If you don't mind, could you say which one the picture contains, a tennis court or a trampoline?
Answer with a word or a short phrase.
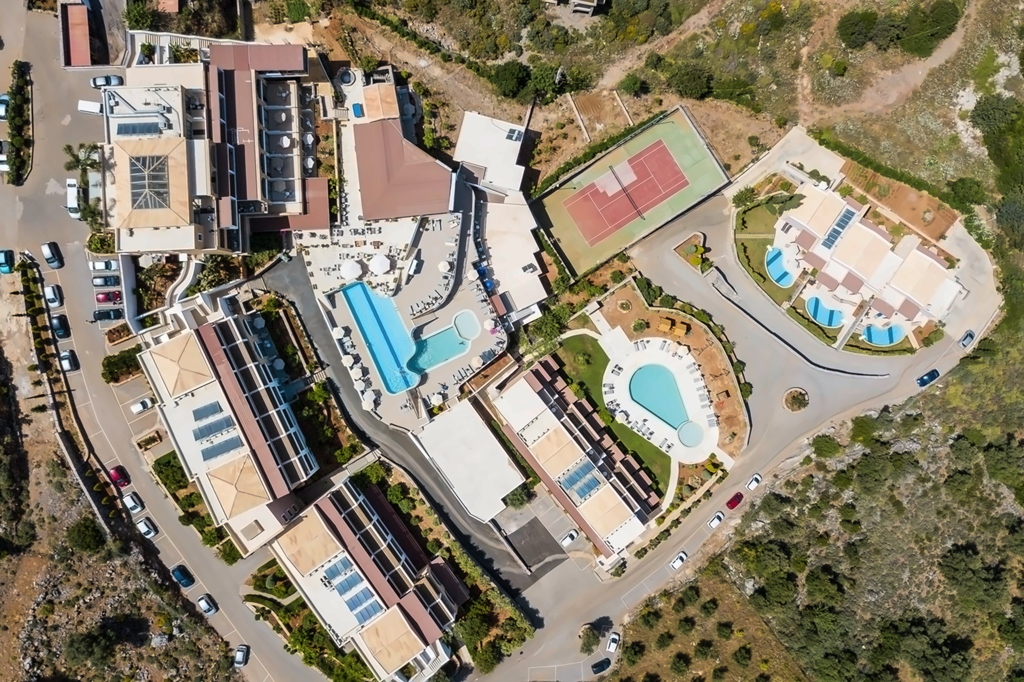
tennis court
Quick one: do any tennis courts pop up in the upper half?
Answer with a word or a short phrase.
Yes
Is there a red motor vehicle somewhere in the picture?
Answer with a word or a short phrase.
Yes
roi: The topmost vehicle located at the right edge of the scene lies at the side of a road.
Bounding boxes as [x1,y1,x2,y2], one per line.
[959,328,977,348]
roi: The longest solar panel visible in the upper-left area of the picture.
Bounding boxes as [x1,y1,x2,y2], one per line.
[117,123,160,135]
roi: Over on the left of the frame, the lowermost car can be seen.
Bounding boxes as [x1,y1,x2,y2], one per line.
[234,645,248,670]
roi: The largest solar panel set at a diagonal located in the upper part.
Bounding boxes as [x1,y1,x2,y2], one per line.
[821,208,856,249]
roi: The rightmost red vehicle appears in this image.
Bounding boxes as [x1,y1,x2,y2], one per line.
[727,492,744,512]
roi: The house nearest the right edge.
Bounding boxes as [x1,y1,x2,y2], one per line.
[866,245,962,321]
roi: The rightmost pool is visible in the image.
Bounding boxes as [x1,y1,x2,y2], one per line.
[862,323,906,347]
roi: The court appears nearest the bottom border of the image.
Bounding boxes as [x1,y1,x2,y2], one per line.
[533,107,729,277]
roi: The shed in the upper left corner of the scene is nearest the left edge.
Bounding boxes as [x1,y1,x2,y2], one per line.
[67,5,101,68]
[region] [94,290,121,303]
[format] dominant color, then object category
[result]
red vehicle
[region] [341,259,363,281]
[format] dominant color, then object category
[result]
white umbrella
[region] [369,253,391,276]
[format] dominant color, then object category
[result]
white umbrella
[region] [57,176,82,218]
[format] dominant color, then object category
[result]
white vehicle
